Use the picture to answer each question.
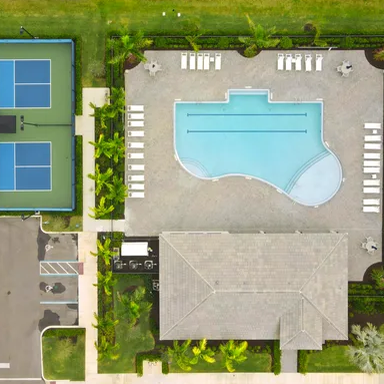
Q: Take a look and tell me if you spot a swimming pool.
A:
Yes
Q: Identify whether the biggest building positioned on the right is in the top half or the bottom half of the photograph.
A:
bottom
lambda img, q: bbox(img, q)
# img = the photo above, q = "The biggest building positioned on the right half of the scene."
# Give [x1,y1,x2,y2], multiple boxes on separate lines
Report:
[160,228,350,351]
